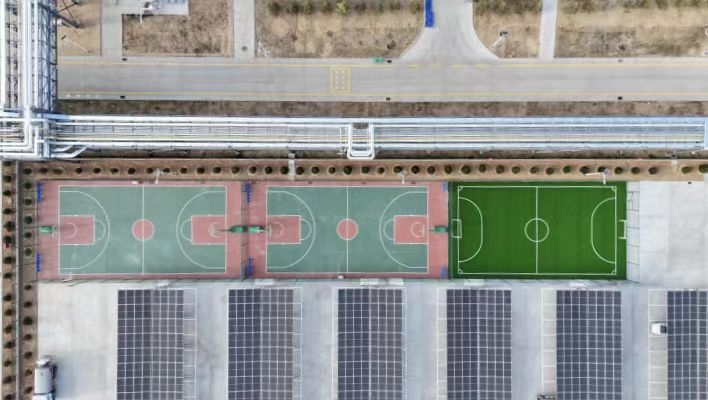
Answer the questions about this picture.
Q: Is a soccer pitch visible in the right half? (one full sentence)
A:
Yes, looking in the right half, one can make out a soccer pitch.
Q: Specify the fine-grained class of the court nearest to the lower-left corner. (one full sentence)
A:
The court nearest to the lower-left corner appears to be a basketball court.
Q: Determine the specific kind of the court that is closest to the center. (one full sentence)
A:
Specifically, the court that is closest to the center is a basketball court.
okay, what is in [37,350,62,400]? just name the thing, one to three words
truck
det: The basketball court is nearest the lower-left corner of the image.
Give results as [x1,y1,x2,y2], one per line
[37,181,241,280]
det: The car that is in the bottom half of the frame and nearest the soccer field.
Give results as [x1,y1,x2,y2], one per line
[653,323,668,336]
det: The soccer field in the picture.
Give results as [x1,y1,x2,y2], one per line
[450,181,628,280]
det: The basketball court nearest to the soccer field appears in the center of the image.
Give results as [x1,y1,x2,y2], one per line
[247,181,449,280]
